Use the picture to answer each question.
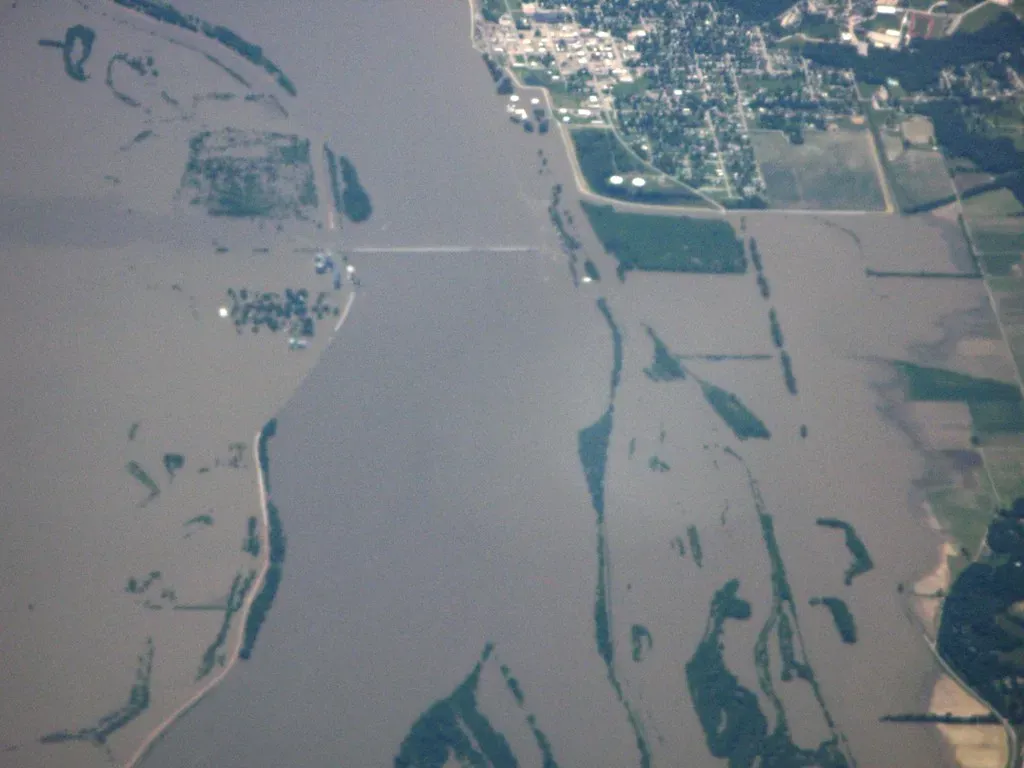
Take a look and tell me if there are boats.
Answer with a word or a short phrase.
No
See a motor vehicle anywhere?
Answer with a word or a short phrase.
No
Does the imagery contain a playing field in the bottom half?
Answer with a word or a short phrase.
No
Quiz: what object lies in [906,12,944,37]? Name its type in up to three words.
sports field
